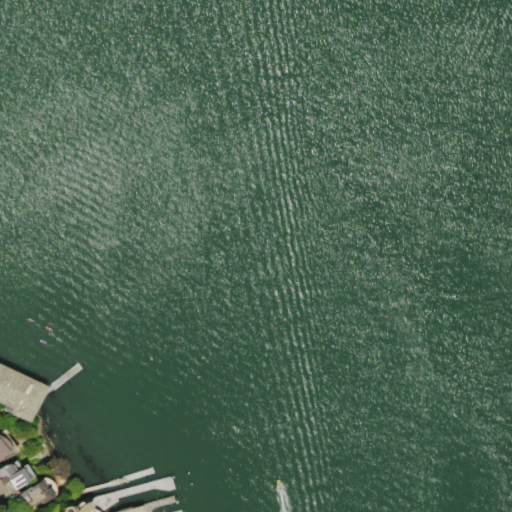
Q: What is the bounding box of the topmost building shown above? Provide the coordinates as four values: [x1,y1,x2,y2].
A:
[0,362,50,422]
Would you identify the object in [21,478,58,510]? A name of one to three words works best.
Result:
house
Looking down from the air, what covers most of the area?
water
